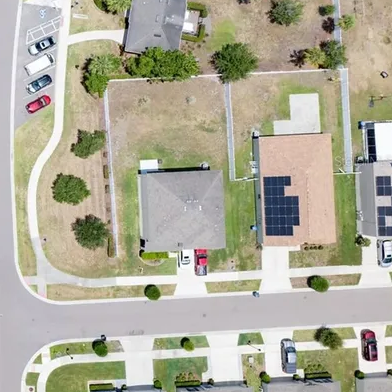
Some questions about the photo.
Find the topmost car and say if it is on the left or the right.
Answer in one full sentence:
You can find the topmost car on the left side of the picture.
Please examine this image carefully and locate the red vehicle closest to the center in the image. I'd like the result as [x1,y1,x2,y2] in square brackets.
[193,249,209,275]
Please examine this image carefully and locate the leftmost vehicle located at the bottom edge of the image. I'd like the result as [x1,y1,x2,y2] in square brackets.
[281,338,297,373]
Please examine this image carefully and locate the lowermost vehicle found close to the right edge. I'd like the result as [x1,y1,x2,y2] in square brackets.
[361,329,378,362]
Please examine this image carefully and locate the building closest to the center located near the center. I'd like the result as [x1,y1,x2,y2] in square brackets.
[143,170,227,251]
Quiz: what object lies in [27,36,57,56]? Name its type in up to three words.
car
